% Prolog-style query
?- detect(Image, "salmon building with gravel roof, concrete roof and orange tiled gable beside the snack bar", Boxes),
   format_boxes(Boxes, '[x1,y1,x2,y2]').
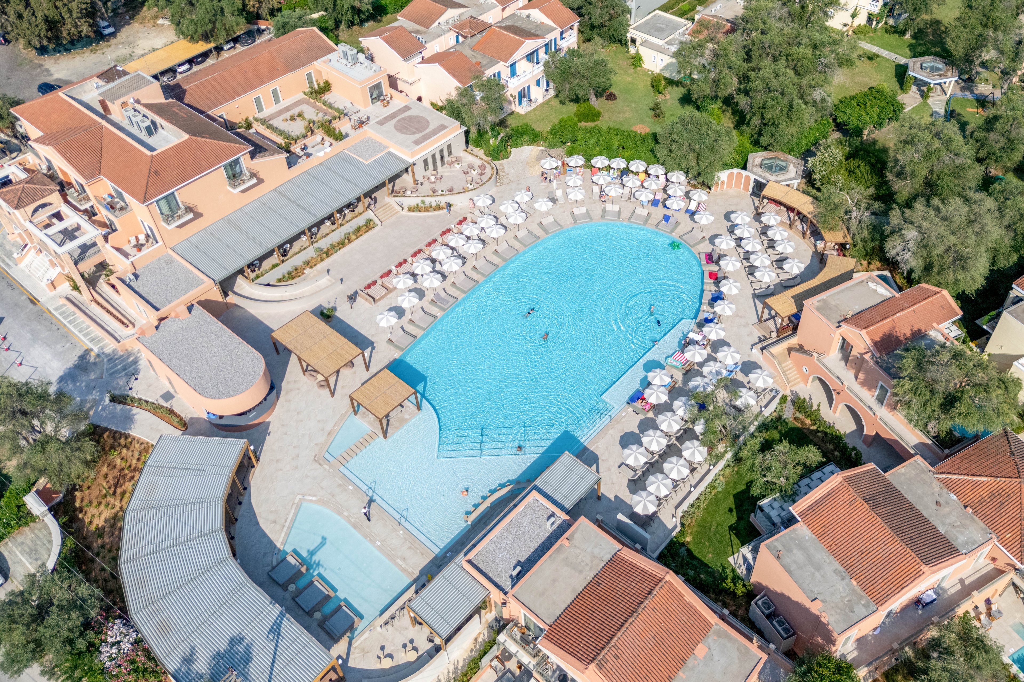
[462,491,767,682]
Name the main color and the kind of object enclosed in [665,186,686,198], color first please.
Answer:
white umbrella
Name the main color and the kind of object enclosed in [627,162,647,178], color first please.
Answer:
white umbrella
